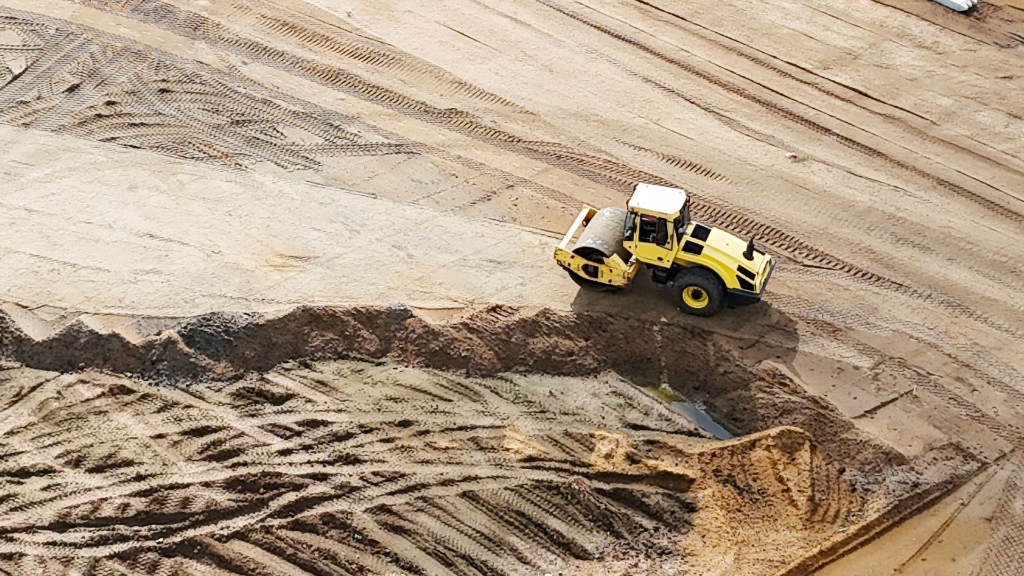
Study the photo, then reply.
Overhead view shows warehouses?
No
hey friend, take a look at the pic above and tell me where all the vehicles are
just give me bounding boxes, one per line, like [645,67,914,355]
[553,180,776,318]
